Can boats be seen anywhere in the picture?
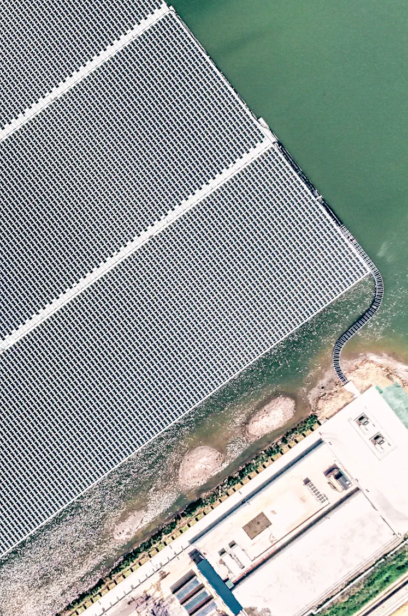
No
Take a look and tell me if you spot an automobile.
No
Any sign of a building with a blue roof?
Yes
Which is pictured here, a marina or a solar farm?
solar farm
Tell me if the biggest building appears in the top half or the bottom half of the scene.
bottom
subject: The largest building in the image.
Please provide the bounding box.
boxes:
[194,558,244,615]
